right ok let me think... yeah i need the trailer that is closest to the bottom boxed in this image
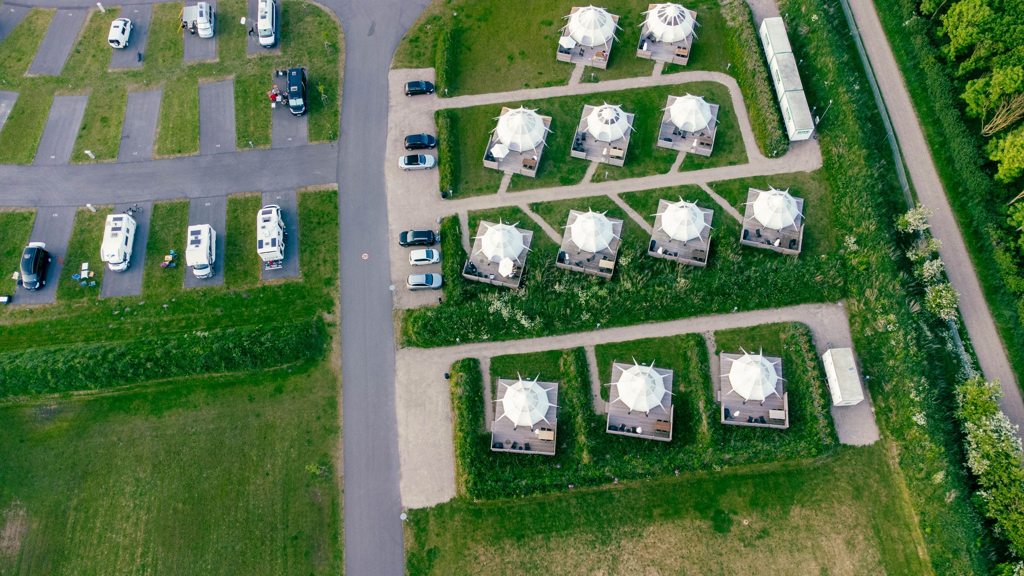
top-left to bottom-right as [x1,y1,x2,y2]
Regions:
[823,343,865,406]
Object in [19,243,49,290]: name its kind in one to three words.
van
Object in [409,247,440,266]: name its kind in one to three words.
car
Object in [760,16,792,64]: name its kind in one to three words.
building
